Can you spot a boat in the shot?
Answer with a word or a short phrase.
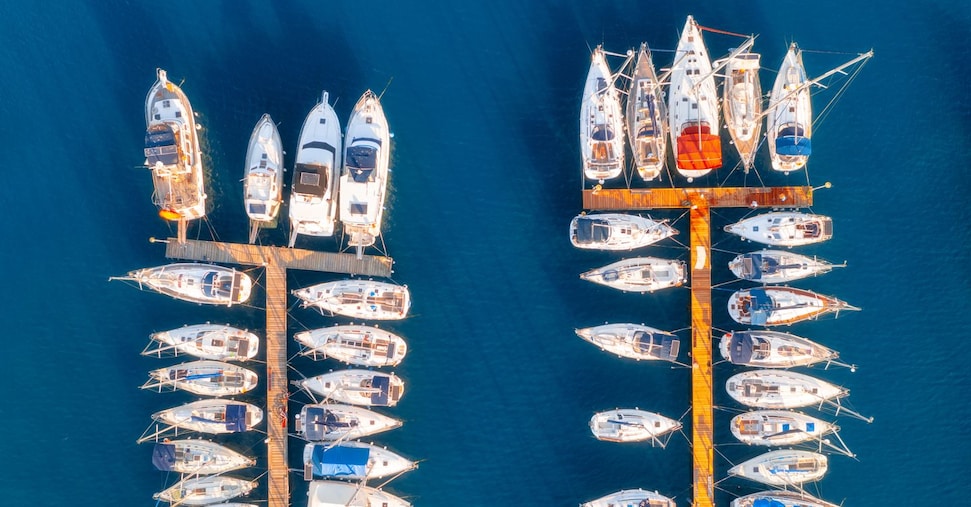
Yes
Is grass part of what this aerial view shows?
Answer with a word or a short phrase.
No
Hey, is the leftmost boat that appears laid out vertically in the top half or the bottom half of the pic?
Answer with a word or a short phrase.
top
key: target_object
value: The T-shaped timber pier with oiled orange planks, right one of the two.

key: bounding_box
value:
[583,187,812,507]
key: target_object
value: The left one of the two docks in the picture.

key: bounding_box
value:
[166,238,394,507]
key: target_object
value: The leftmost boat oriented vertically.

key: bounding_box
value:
[130,66,213,244]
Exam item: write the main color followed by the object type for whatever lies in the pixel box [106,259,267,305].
white boat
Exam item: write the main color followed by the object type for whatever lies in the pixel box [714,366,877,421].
white boat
